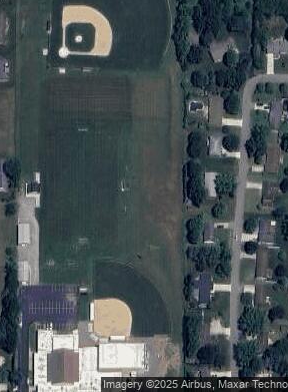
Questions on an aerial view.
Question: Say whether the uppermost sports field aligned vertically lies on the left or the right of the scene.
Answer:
left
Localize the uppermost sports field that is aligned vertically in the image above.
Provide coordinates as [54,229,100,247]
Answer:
[40,75,136,291]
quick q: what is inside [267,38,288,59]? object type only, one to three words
house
